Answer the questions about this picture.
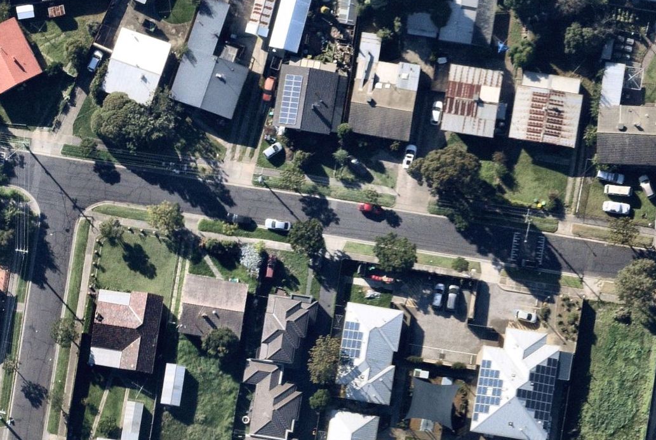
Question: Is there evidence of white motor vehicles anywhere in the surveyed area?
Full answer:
Yes, the picture does show a white motor vehicle.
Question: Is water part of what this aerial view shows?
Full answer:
No, the picture contains no water.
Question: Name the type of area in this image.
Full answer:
The area seen from above is a residential area.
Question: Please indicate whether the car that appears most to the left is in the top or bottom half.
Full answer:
Seen from above, the car that appears most to the left lies in the top half of the view.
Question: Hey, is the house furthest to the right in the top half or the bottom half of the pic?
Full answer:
The top half of the photo is where the house furthest to the right is.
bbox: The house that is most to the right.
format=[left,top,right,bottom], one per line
[598,62,656,166]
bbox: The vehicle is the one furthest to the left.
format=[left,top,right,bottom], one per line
[85,48,105,74]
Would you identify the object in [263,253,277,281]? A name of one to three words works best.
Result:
vehicle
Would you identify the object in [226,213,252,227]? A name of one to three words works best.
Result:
vehicle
